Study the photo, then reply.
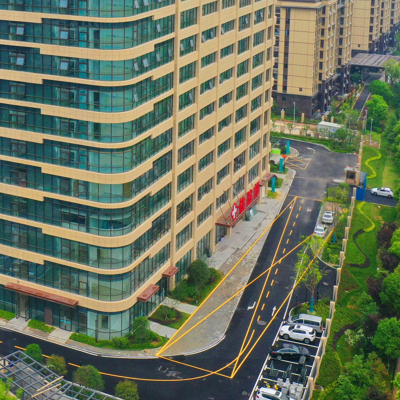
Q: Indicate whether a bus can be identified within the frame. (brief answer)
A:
No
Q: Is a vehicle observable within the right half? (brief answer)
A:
Yes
